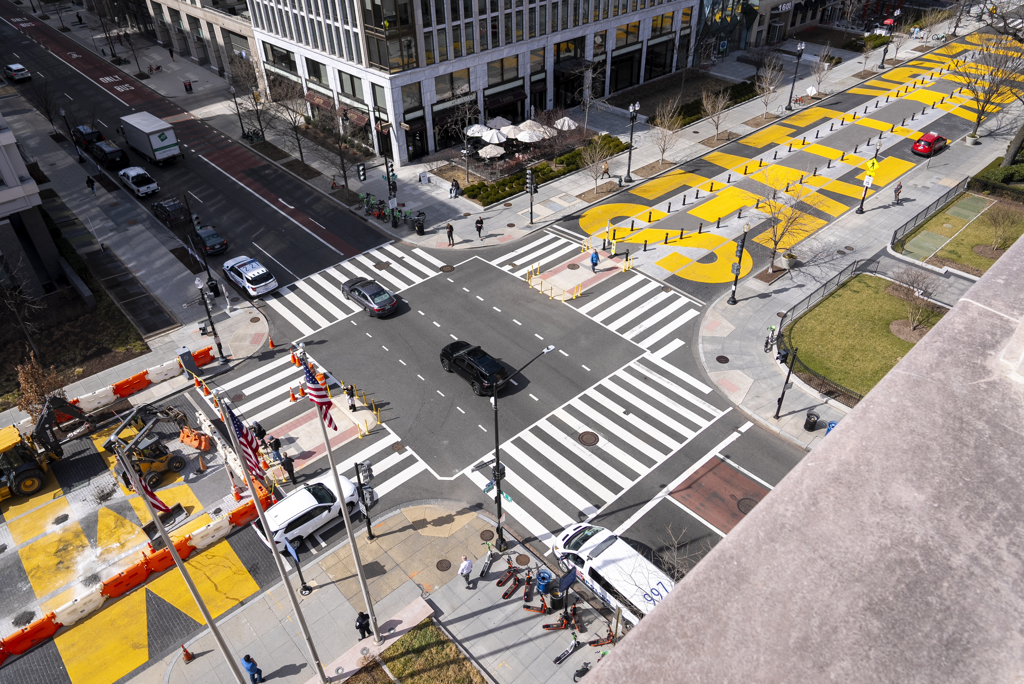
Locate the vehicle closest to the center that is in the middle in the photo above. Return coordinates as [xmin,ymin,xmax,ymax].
[438,343,512,401]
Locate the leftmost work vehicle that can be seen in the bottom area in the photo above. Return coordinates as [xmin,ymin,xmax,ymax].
[0,399,113,499]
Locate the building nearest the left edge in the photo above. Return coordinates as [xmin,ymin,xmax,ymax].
[0,138,42,218]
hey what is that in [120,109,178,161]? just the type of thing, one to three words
truck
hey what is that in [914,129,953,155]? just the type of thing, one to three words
car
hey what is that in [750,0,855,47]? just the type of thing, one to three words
building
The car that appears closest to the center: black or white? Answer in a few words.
black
